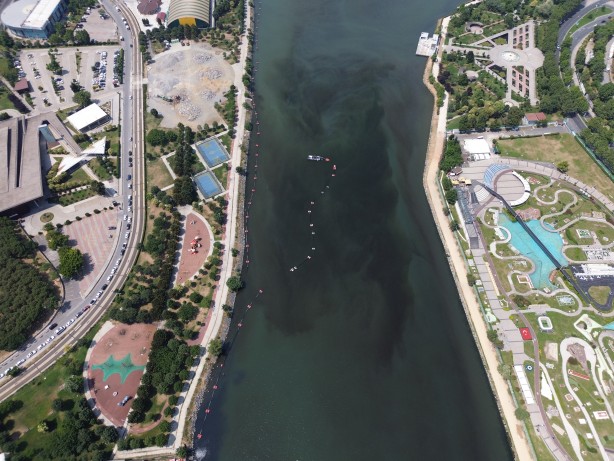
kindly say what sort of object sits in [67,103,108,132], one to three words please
building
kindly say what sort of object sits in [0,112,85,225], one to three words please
building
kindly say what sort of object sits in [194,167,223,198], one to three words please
sports court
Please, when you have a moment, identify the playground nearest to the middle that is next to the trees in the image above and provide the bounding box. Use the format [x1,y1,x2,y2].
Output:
[175,212,210,289]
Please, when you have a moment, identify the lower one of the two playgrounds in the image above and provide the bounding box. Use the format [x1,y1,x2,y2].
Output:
[88,320,158,427]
